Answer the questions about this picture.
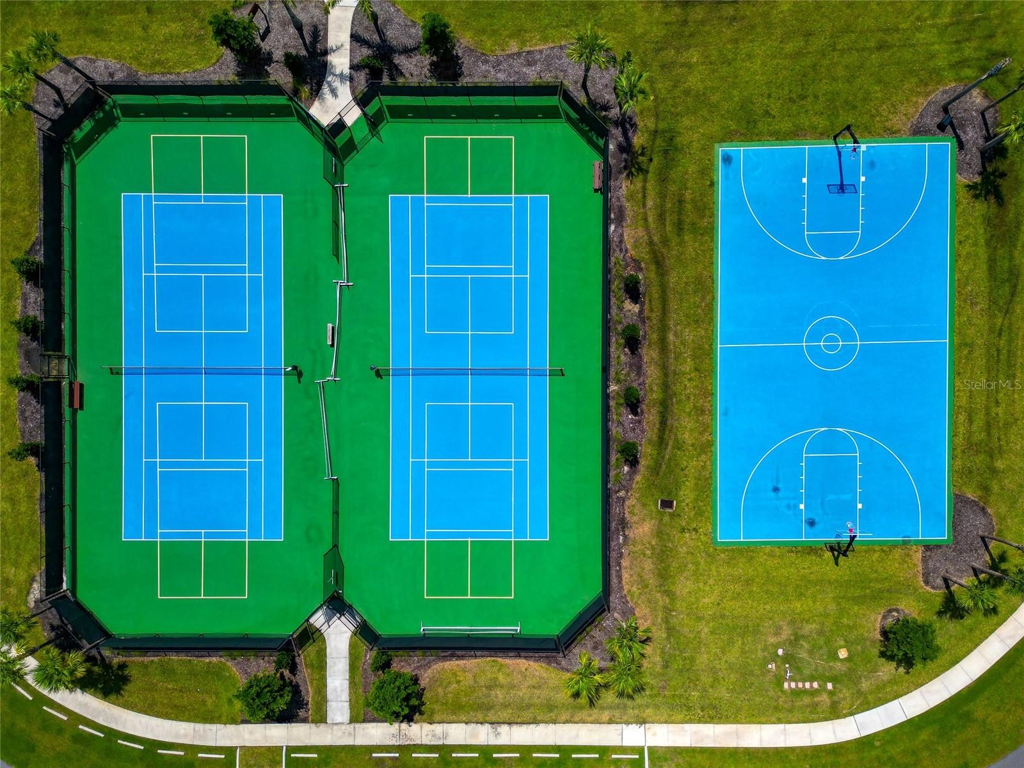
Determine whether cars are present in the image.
No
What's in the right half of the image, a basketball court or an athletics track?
basketball court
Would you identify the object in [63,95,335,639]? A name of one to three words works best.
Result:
tennis court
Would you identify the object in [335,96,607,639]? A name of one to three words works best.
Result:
tennis court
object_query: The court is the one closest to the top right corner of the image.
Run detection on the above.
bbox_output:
[713,137,956,546]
